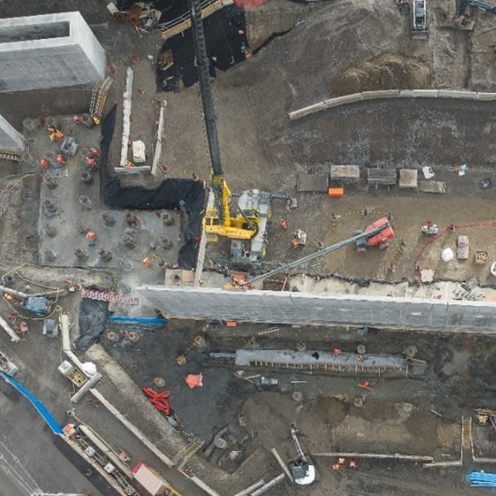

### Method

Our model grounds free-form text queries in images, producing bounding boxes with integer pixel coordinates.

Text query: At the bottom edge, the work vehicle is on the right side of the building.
[283,423,320,496]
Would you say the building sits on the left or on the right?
left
